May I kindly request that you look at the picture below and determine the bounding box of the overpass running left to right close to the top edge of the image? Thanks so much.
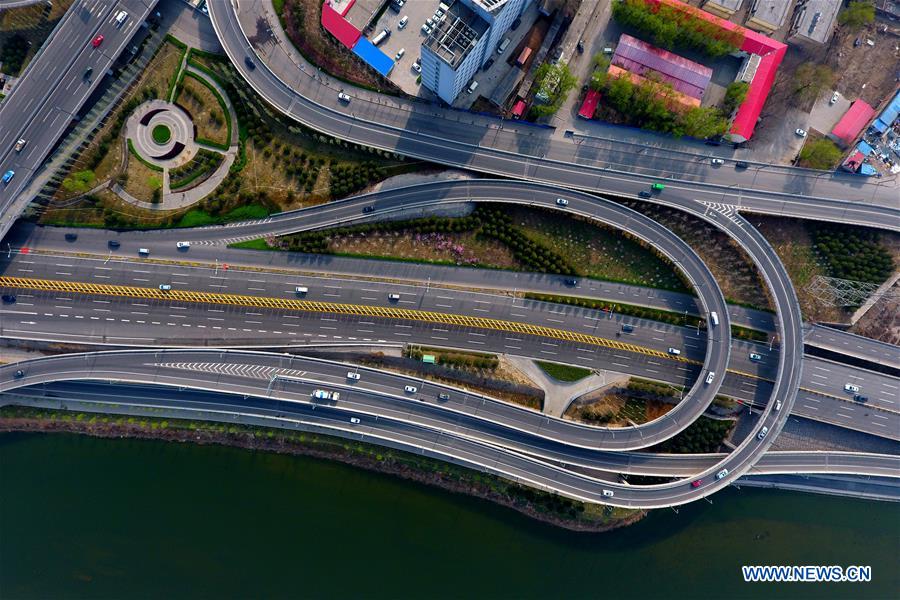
[207,0,900,232]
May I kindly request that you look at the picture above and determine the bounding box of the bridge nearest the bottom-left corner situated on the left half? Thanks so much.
[0,349,279,401]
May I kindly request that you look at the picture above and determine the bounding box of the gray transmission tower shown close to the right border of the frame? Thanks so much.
[806,275,886,307]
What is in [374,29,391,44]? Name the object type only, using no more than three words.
vehicle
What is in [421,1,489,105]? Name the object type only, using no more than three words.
building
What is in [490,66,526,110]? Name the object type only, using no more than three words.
shed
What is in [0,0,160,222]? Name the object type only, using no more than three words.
bridge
